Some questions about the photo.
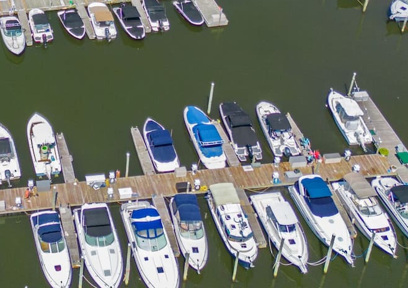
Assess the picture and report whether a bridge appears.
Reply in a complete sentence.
No, there is no bridge in the image.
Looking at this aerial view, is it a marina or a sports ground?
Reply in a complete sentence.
This looks like a marina.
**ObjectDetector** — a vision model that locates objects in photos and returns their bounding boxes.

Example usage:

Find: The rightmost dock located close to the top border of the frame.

[193,0,229,30]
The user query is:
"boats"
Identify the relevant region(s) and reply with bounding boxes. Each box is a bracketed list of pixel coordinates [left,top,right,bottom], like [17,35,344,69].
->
[110,5,143,41]
[388,0,408,26]
[120,202,172,288]
[27,111,64,180]
[291,173,355,267]
[250,195,307,274]
[172,193,208,274]
[144,118,179,174]
[220,103,263,166]
[172,0,203,27]
[364,179,408,243]
[330,180,399,260]
[0,16,26,57]
[328,88,374,156]
[143,0,171,35]
[28,8,55,49]
[30,211,71,288]
[258,101,301,161]
[186,106,231,170]
[0,122,22,190]
[88,1,116,45]
[203,173,255,271]
[57,9,85,41]
[79,204,126,288]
